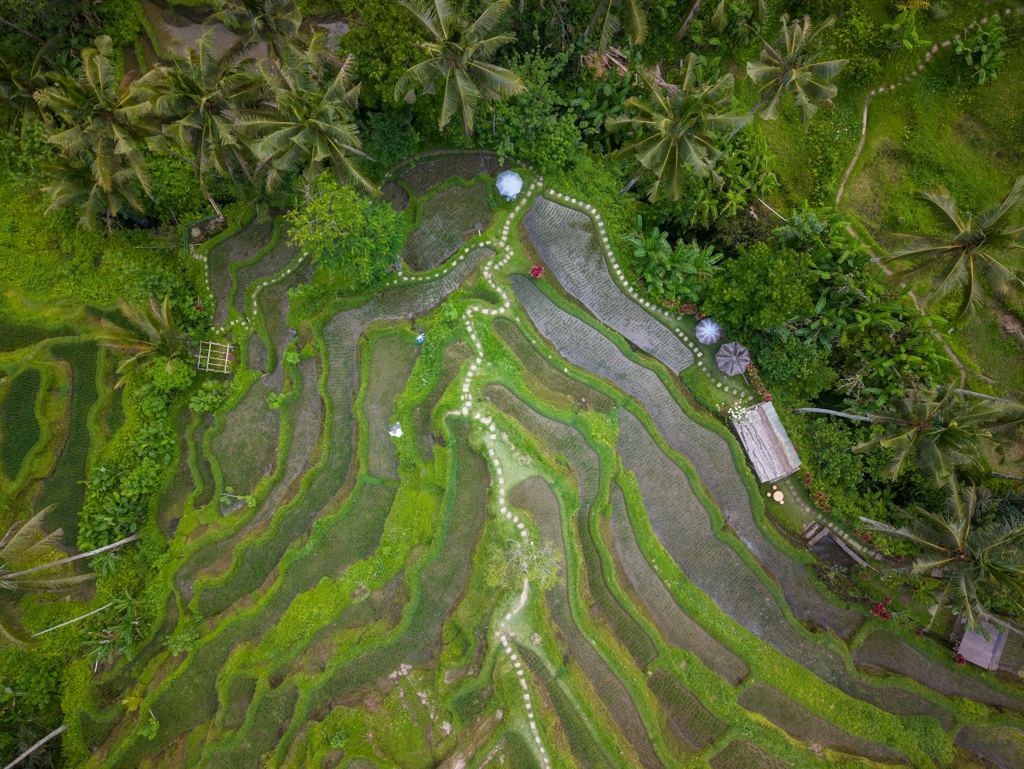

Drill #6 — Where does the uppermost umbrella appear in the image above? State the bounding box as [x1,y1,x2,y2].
[496,173,523,200]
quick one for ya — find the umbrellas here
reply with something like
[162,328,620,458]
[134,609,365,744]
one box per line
[695,319,719,344]
[496,173,523,200]
[713,341,748,376]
